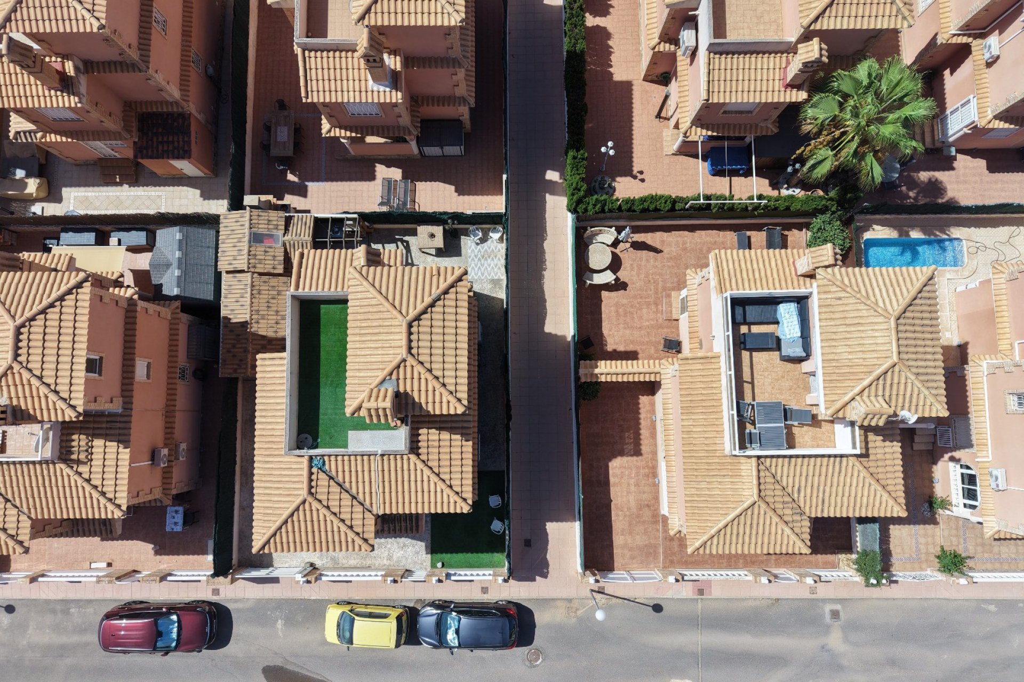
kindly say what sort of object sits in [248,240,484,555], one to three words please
house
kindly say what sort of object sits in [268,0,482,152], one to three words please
house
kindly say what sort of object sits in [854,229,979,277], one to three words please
swimming pool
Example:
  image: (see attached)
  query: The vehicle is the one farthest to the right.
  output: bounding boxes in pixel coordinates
[418,601,519,657]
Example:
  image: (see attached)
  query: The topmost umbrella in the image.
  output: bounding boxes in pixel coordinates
[653,91,667,122]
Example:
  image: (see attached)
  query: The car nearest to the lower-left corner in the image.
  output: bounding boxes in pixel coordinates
[96,602,221,662]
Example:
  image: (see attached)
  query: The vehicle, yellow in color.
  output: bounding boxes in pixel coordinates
[327,602,411,654]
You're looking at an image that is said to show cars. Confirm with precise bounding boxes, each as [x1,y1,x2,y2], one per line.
[96,602,221,662]
[327,602,411,654]
[418,601,519,657]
